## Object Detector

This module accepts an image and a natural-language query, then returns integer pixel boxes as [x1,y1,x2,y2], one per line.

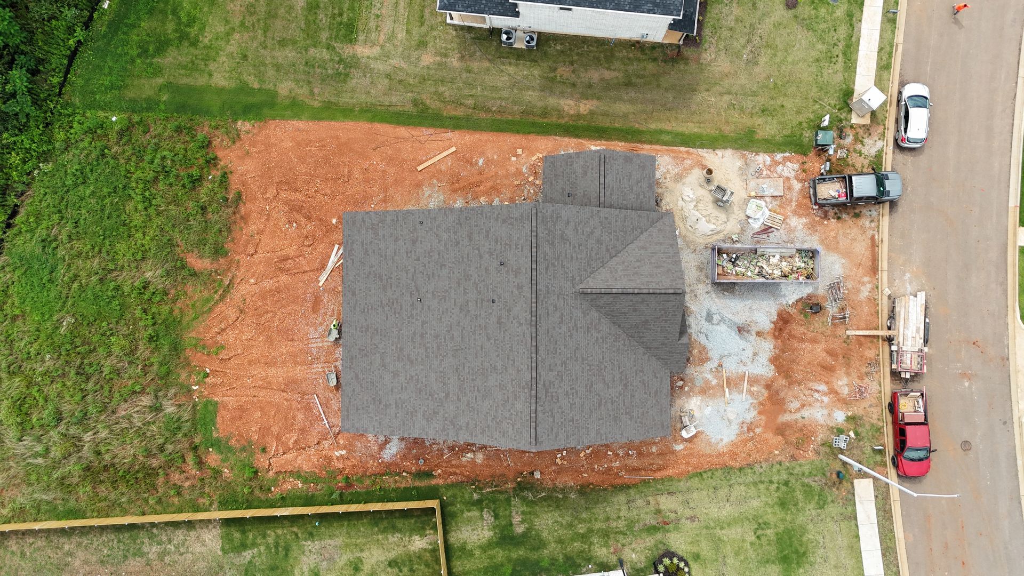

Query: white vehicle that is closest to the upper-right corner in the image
[895,85,935,148]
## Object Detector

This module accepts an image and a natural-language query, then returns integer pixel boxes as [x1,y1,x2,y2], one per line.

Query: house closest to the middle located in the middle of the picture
[342,149,689,450]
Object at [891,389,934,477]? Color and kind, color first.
red truck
